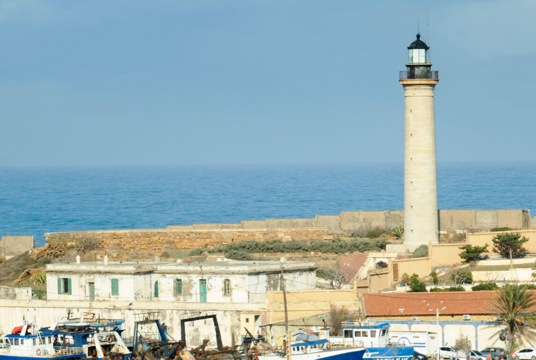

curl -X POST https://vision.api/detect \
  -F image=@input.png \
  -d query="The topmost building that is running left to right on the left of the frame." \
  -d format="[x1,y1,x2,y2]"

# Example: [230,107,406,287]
[43,256,332,302]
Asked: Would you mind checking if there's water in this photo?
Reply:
Yes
